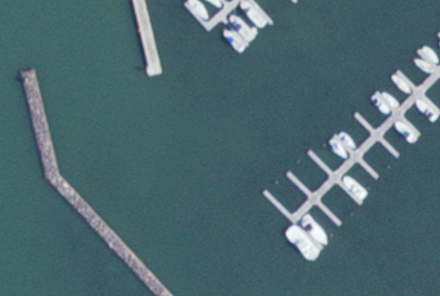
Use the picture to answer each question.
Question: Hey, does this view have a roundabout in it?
No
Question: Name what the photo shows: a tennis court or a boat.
boat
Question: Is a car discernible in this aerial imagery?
No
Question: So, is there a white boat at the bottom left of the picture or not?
No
